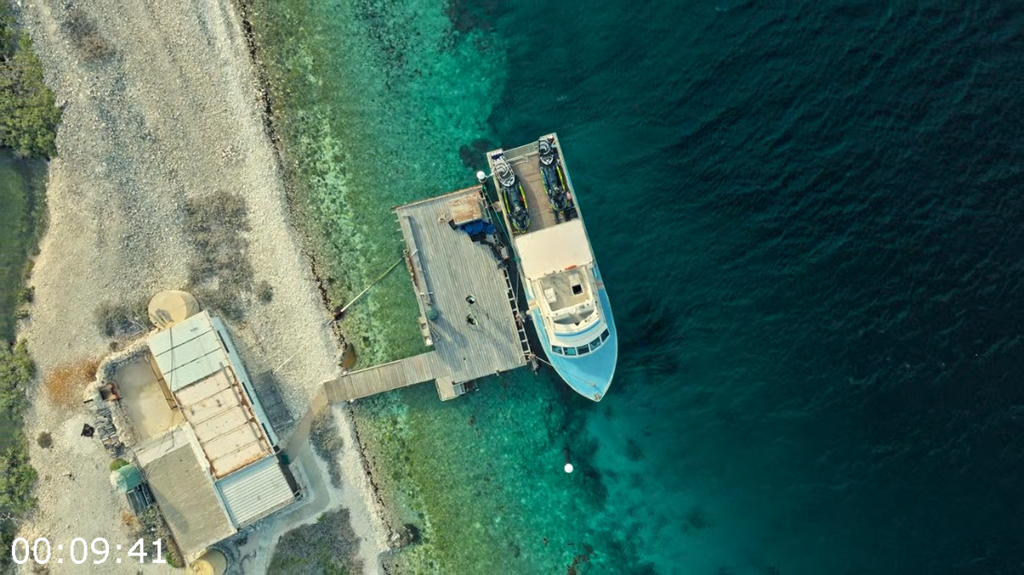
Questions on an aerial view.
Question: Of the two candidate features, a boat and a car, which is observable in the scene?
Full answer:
It is a boat that can be seen here.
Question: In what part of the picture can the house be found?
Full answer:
The house sits in the bottom left section of the image.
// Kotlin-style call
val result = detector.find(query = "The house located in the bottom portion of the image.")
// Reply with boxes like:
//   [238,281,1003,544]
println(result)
[135,311,297,560]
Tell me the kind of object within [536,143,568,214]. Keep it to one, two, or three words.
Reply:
boat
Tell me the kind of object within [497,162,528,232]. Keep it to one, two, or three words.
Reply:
boat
